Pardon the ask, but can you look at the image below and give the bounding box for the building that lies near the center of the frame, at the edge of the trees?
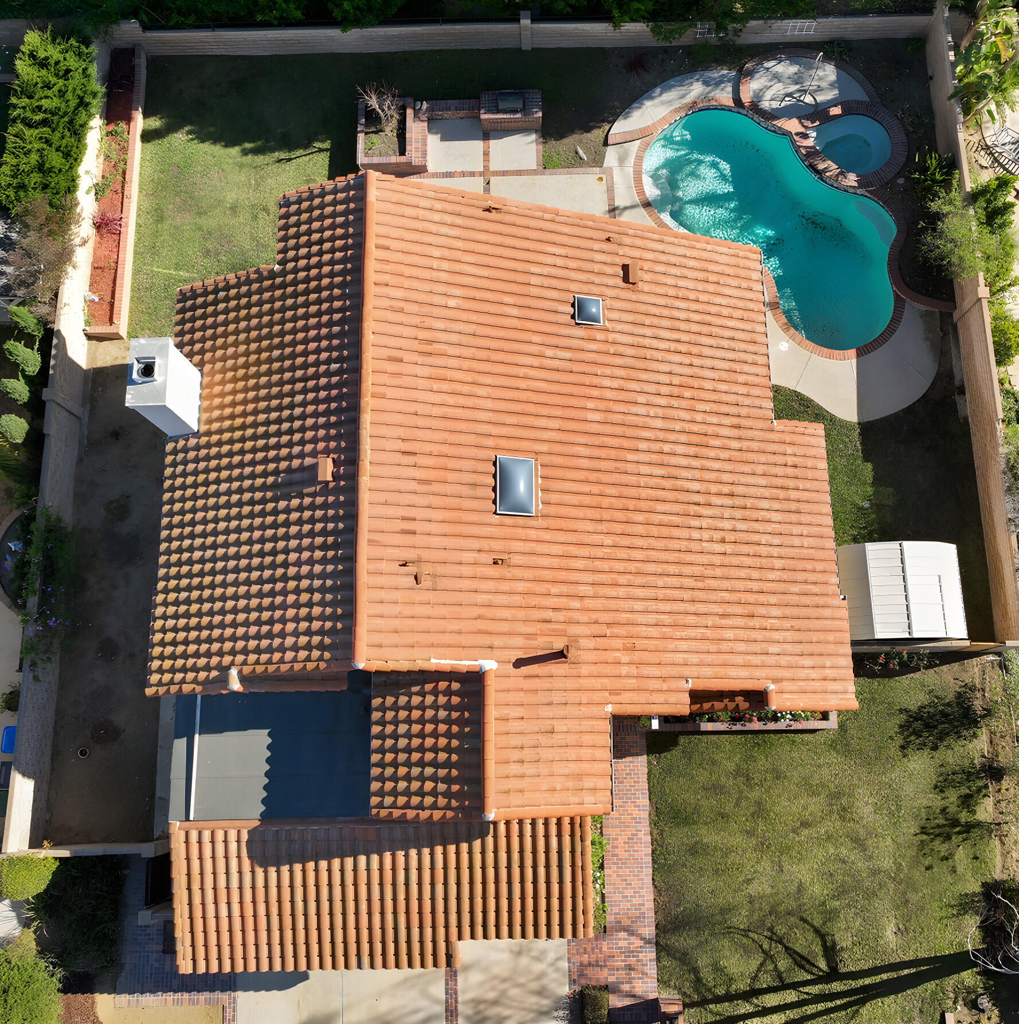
[125,165,868,981]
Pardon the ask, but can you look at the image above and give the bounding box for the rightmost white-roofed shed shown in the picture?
[843,543,969,639]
